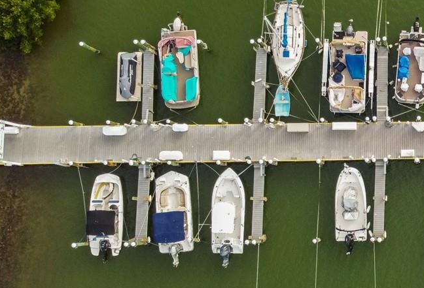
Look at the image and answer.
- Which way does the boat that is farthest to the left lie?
up and down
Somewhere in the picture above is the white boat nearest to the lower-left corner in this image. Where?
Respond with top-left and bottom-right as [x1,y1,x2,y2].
[87,174,127,263]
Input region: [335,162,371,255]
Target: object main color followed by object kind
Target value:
white boat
